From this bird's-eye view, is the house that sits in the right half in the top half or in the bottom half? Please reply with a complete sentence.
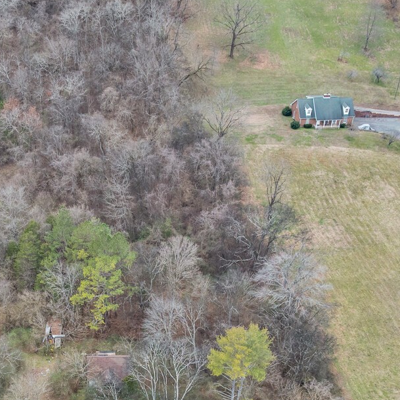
The house that sits in the right half is in the top half of the image.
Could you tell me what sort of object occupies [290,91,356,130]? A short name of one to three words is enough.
house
